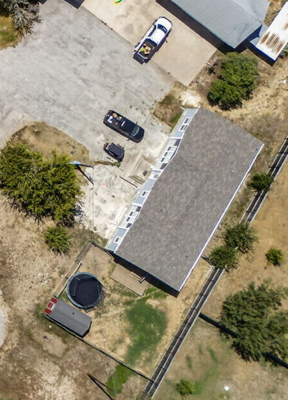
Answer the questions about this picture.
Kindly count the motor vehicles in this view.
3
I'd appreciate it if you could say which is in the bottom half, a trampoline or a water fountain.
trampoline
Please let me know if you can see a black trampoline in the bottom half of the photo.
Yes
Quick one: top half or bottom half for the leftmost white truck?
top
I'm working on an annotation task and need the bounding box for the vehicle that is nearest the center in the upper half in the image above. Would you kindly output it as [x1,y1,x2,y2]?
[99,141,124,162]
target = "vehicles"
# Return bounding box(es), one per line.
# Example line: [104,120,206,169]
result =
[131,14,171,61]
[99,141,124,162]
[100,111,145,142]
